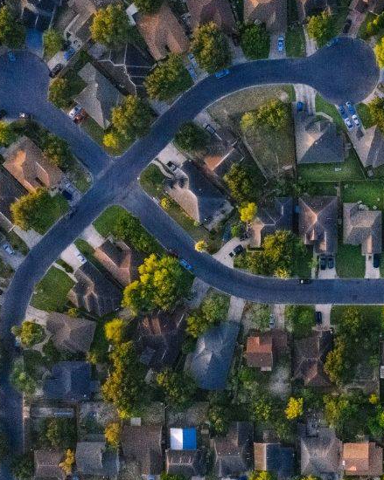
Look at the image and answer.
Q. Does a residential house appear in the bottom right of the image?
Yes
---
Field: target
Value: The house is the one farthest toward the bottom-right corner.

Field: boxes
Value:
[342,442,383,477]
